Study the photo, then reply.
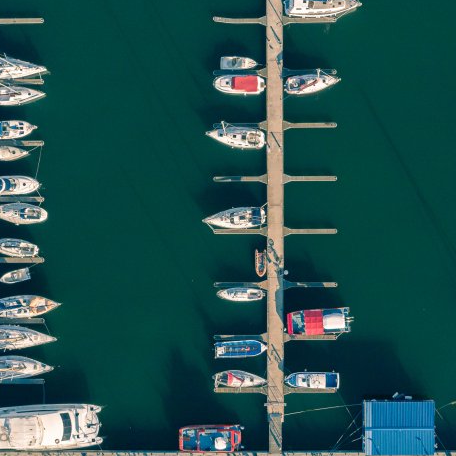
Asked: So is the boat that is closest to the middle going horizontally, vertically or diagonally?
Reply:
horizontally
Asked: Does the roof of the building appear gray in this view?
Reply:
No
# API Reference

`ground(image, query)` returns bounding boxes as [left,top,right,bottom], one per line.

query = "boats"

[0,269,34,283]
[255,250,267,277]
[213,338,269,357]
[0,144,30,163]
[0,175,41,196]
[282,307,353,336]
[282,369,339,390]
[283,0,362,20]
[0,354,55,381]
[0,324,58,353]
[0,403,104,449]
[0,52,48,81]
[201,207,268,229]
[282,69,343,97]
[0,293,60,321]
[206,122,269,151]
[221,55,269,71]
[216,371,269,391]
[0,236,41,258]
[0,79,48,108]
[0,119,37,140]
[215,285,269,302]
[212,74,269,96]
[0,201,50,224]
